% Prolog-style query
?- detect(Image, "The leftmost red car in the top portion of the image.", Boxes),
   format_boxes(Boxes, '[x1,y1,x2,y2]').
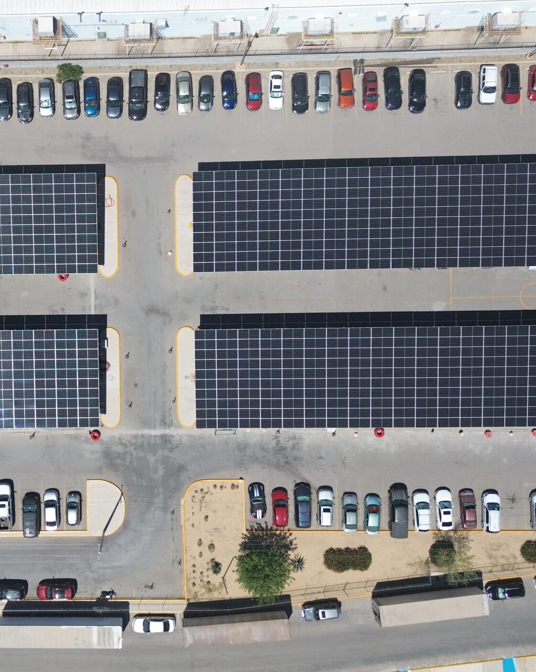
[244,72,263,111]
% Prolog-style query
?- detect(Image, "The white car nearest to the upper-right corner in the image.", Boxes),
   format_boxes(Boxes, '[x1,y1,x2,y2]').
[476,63,499,105]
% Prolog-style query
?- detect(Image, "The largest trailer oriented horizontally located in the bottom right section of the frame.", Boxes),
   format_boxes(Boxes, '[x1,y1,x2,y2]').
[368,585,488,628]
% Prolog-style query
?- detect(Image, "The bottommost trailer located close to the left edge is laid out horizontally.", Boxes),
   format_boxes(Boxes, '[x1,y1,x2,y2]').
[0,613,123,649]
